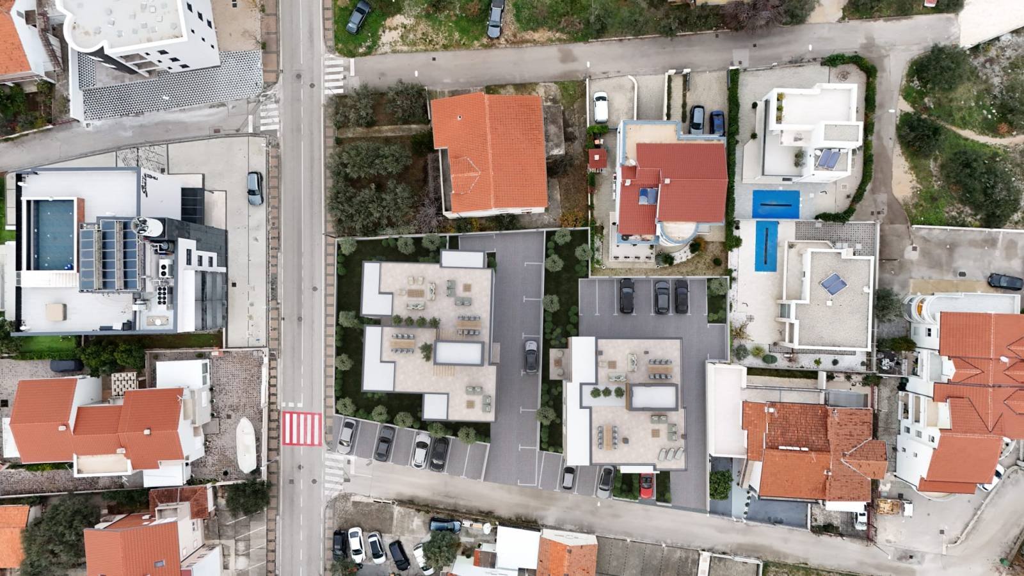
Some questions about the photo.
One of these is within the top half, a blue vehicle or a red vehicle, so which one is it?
blue vehicle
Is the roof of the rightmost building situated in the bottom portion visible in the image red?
Yes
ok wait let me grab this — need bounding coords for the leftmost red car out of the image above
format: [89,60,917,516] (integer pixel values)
[639,473,655,500]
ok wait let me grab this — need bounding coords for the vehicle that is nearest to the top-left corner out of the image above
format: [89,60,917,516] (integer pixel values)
[245,170,264,206]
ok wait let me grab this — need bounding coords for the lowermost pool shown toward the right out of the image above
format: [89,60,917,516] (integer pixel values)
[752,218,780,274]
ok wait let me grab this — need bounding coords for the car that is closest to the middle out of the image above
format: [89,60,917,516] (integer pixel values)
[523,339,539,374]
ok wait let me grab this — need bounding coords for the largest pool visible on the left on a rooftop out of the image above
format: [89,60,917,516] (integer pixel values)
[33,201,74,269]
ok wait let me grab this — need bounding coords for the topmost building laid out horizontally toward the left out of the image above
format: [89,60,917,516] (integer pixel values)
[57,0,220,77]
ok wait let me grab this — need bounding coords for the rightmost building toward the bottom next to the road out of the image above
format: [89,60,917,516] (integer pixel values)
[886,290,1024,494]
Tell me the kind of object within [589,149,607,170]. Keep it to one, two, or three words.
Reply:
building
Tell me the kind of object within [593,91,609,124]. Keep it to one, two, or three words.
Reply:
vehicle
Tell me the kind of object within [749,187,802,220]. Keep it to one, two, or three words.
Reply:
swimming pool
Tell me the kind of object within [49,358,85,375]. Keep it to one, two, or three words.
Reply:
car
